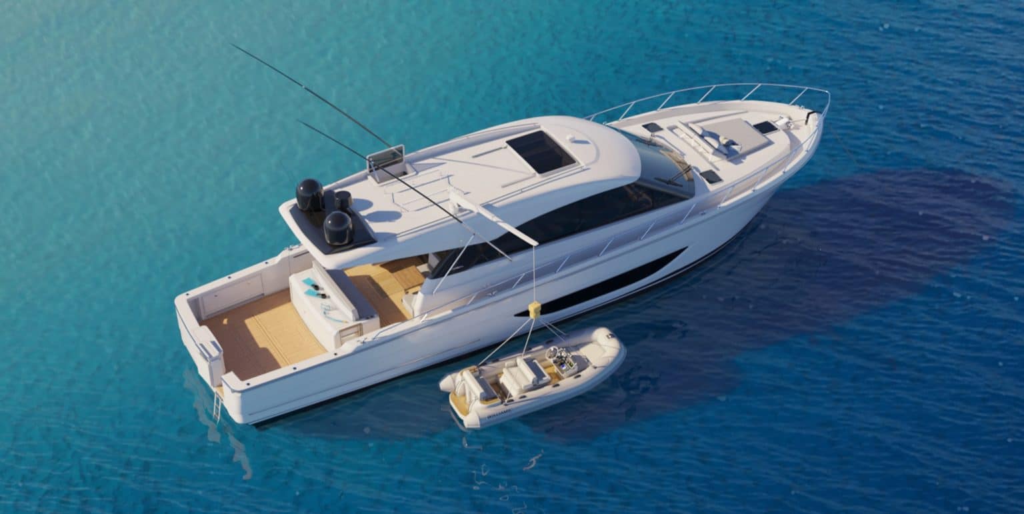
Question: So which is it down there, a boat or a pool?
boat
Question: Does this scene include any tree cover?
No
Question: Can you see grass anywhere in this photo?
No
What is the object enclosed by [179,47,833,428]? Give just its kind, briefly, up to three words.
boat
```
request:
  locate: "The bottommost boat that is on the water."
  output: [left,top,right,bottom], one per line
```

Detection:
[435,327,629,431]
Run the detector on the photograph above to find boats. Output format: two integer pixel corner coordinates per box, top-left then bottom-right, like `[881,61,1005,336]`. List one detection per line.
[179,47,833,428]
[435,327,629,431]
